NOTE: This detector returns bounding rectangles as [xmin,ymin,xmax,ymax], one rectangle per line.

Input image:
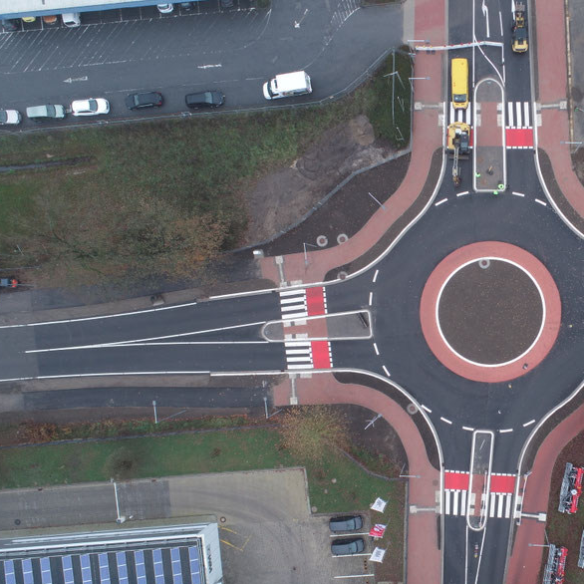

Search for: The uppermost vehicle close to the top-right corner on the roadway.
[511,6,530,54]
